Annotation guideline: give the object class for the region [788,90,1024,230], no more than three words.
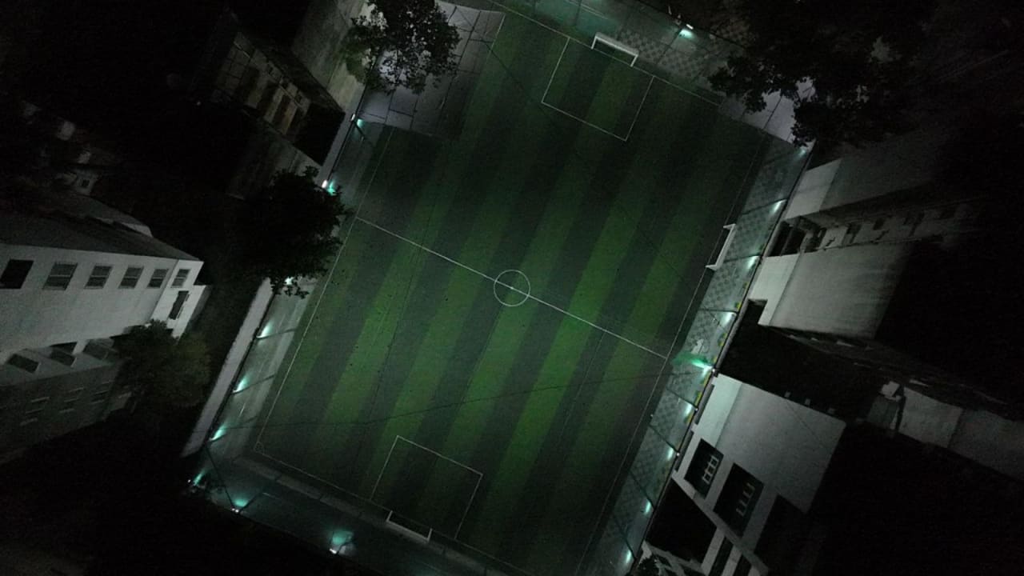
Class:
building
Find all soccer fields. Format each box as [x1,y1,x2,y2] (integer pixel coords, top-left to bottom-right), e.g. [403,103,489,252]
[237,0,782,576]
